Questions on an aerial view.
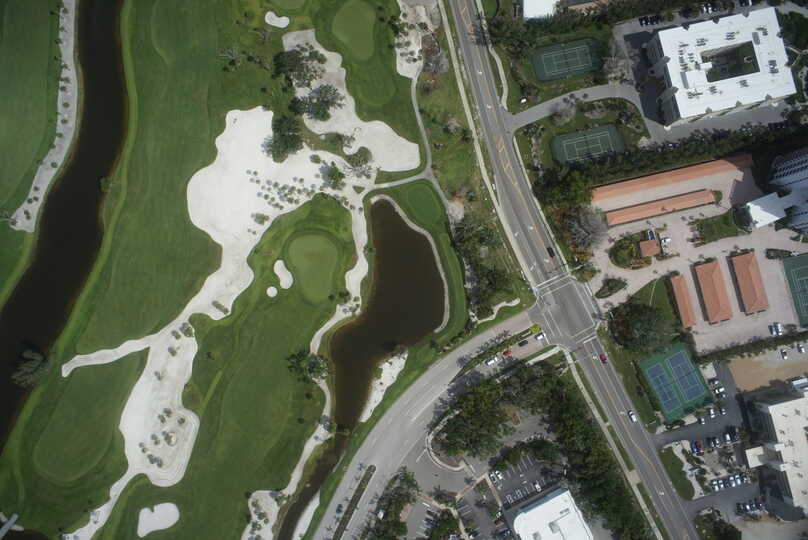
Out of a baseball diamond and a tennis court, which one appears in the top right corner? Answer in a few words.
tennis court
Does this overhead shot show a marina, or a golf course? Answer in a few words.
golf course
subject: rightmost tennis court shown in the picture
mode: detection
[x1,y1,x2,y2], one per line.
[783,253,808,326]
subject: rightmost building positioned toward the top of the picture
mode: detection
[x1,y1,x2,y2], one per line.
[768,144,808,222]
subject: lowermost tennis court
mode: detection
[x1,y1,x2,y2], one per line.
[637,342,716,425]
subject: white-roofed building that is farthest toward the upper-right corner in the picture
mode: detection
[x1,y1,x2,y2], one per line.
[645,8,796,125]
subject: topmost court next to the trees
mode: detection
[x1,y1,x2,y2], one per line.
[533,37,603,80]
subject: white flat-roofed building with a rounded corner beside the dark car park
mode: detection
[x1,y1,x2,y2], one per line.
[512,487,596,540]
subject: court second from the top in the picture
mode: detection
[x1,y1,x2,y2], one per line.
[551,123,626,165]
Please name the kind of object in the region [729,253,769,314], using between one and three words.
building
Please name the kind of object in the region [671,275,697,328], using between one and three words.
building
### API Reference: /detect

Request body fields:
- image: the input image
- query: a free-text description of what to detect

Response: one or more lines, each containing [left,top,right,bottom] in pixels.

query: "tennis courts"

[637,342,716,425]
[533,37,603,80]
[551,123,626,165]
[783,253,808,326]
